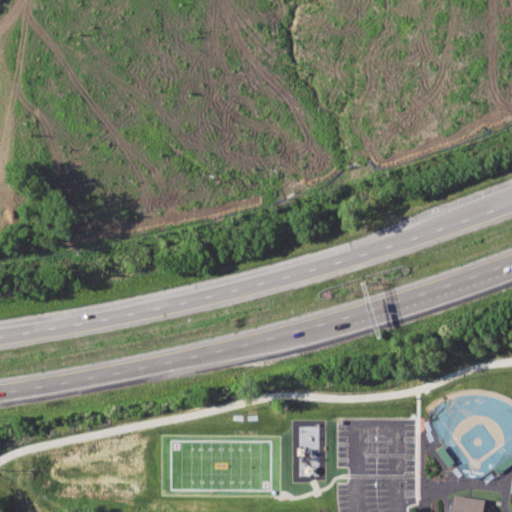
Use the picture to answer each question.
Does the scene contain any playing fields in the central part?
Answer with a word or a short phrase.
No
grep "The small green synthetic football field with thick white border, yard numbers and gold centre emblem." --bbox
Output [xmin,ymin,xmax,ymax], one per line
[162,436,282,497]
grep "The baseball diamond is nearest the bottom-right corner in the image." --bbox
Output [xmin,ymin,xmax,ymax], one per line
[426,390,512,479]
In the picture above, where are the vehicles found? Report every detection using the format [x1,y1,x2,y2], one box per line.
[336,324,348,330]
[294,332,304,338]
[81,314,94,320]
[502,266,512,274]
[342,421,352,426]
